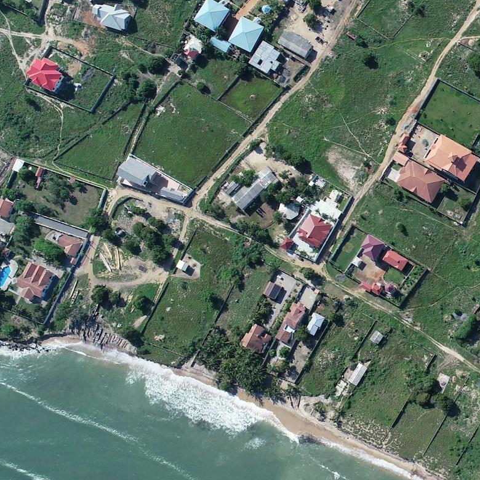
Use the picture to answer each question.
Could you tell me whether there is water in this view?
Yes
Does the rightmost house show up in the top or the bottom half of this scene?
top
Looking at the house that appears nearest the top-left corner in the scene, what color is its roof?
red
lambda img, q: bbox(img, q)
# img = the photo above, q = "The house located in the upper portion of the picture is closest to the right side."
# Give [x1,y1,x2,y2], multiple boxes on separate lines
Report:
[429,133,480,182]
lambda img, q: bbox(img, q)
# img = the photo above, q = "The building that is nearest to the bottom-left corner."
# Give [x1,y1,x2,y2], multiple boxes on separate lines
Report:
[16,261,61,302]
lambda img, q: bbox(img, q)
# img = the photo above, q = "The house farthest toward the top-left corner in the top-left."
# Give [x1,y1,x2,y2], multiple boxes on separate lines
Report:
[24,54,67,95]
